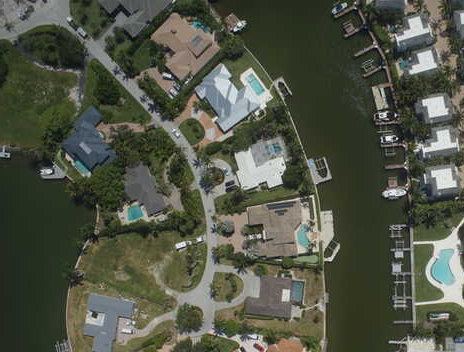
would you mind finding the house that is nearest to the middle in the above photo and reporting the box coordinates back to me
[234,148,284,190]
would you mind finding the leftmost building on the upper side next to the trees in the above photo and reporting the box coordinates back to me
[62,109,114,170]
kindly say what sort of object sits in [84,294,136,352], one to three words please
house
